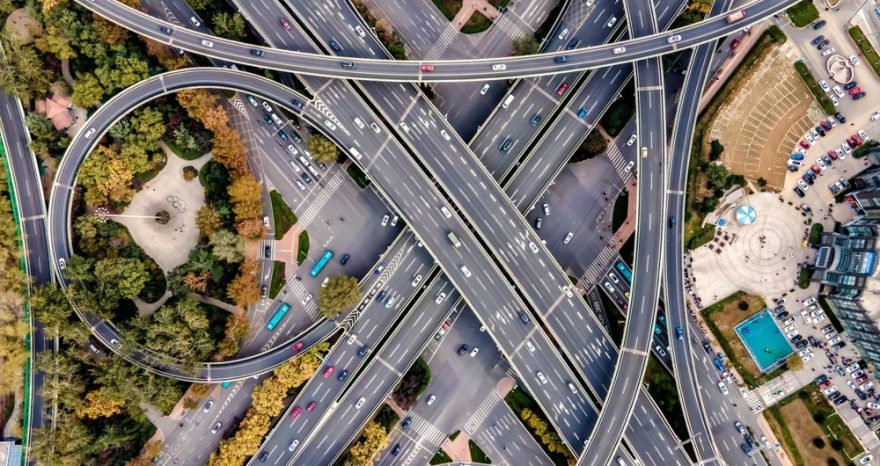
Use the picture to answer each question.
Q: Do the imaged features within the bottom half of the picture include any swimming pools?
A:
Yes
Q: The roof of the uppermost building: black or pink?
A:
pink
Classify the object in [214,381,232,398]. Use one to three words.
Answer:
vehicle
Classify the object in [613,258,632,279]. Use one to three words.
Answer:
vehicle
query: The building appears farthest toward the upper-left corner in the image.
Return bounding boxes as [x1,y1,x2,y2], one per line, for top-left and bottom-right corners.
[39,91,81,132]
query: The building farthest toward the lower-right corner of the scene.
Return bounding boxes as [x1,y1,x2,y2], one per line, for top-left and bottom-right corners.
[832,288,880,391]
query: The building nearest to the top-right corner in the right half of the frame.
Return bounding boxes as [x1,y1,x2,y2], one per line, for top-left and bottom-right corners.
[838,161,880,214]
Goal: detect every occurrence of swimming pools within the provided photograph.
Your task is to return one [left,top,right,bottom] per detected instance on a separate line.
[735,310,797,374]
